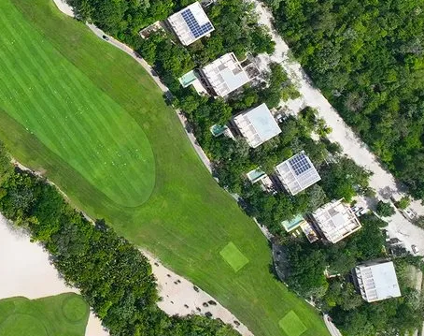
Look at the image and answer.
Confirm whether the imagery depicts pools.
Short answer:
Yes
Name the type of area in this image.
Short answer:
golf course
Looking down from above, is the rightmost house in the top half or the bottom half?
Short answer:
bottom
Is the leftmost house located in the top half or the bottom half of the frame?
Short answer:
top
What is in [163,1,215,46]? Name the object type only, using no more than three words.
house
